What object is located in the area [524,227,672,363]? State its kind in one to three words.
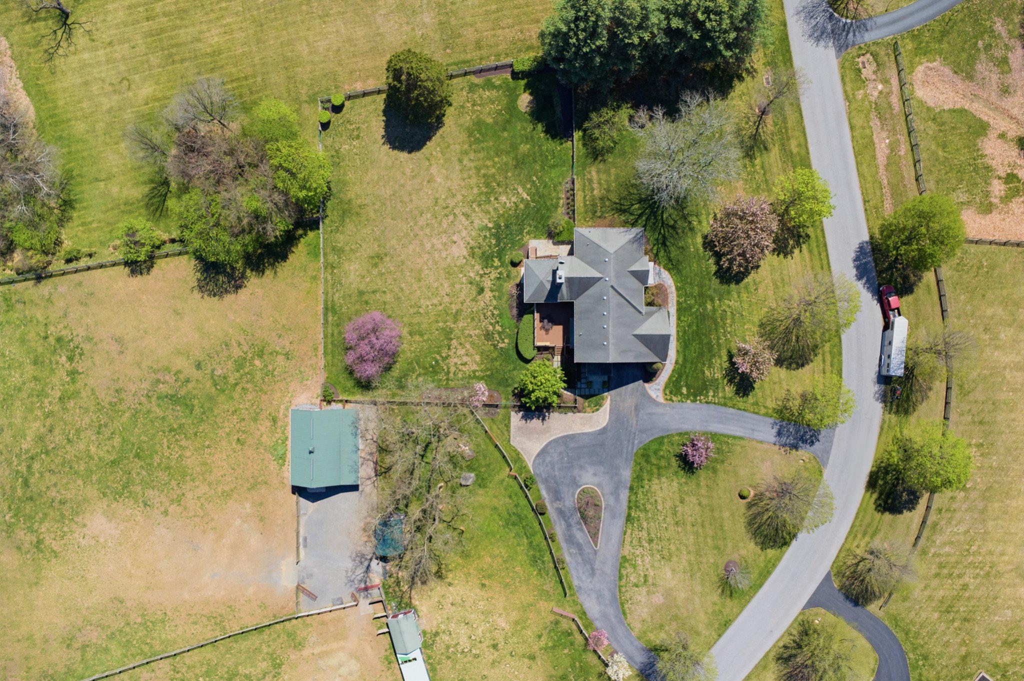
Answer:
house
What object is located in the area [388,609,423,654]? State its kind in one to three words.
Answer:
shed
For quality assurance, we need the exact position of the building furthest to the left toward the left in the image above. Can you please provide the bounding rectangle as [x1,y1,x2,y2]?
[291,409,360,494]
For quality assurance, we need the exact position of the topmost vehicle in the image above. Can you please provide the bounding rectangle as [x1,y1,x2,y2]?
[877,284,900,329]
